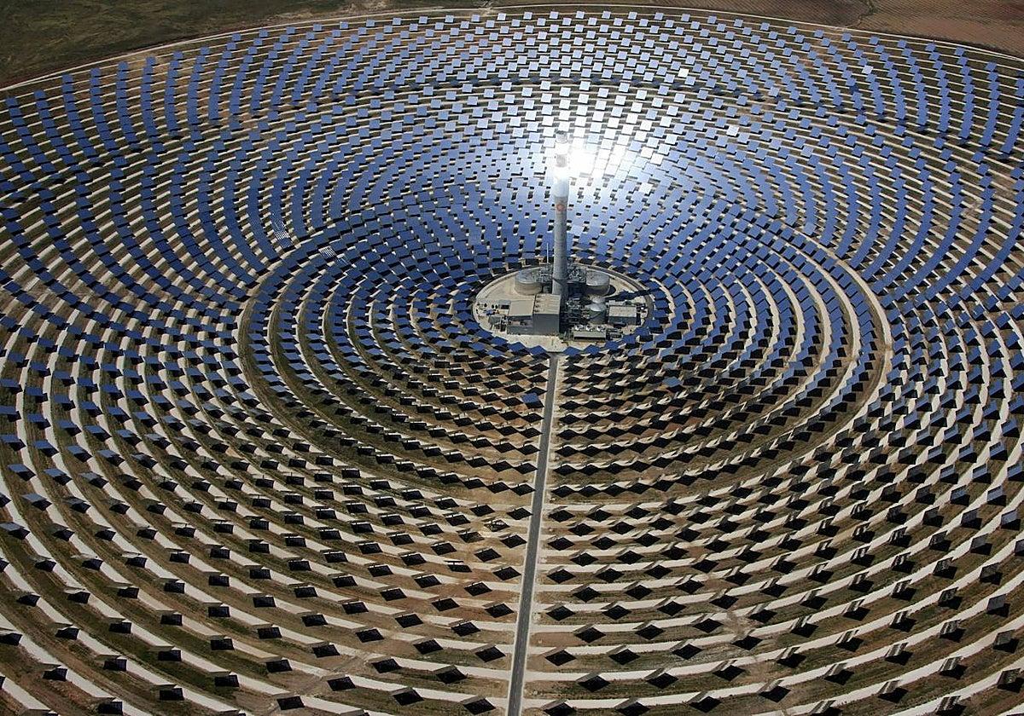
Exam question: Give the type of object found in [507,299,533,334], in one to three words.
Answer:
building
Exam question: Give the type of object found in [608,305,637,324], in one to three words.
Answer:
building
